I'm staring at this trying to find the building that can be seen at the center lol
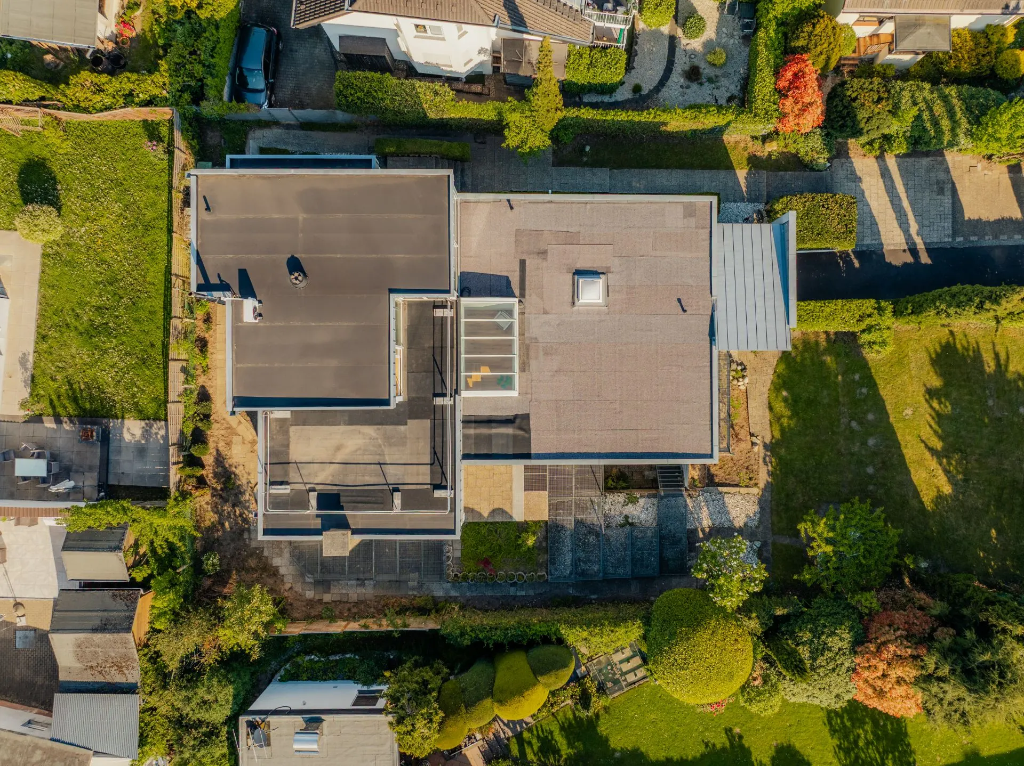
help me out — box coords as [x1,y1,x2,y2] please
[186,155,718,539]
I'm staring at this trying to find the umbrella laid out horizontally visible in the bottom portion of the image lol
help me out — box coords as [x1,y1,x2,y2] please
[47,477,83,491]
